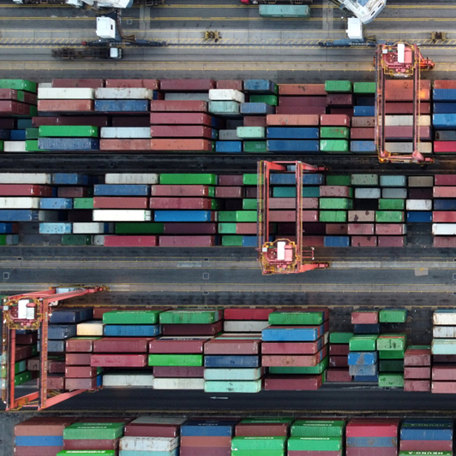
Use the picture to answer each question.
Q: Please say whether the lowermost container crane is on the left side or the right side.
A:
left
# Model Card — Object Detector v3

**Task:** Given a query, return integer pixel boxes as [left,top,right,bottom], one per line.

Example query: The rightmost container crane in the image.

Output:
[372,41,434,164]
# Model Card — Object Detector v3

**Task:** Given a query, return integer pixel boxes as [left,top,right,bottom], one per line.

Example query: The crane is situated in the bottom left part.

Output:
[0,286,102,414]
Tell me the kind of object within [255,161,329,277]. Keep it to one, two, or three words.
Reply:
container crane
